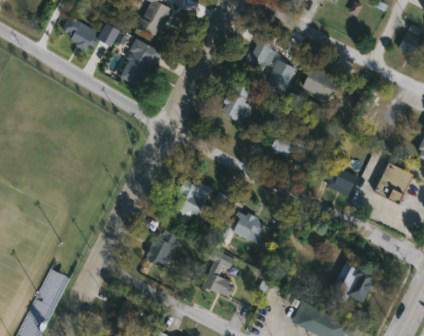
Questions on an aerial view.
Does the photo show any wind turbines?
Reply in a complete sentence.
No, the picture doesn't show any wind turbine.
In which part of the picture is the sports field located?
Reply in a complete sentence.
The sports field appears toward the bottom left of the photo.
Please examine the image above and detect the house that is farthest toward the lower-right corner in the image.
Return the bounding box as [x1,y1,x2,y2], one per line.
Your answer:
[334,262,374,302]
